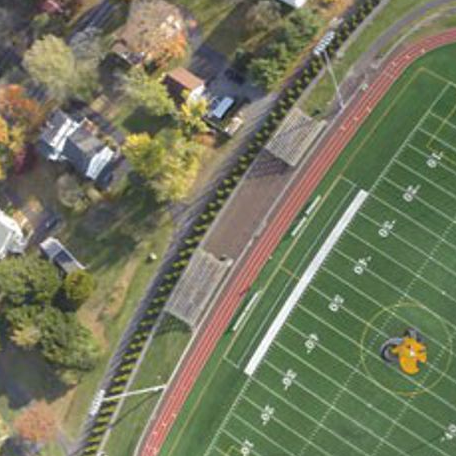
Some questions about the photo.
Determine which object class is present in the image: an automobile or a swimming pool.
automobile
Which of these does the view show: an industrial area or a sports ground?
sports ground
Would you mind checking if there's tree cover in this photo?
Yes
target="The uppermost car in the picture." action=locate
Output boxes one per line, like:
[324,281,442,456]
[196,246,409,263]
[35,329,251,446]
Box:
[225,68,244,82]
